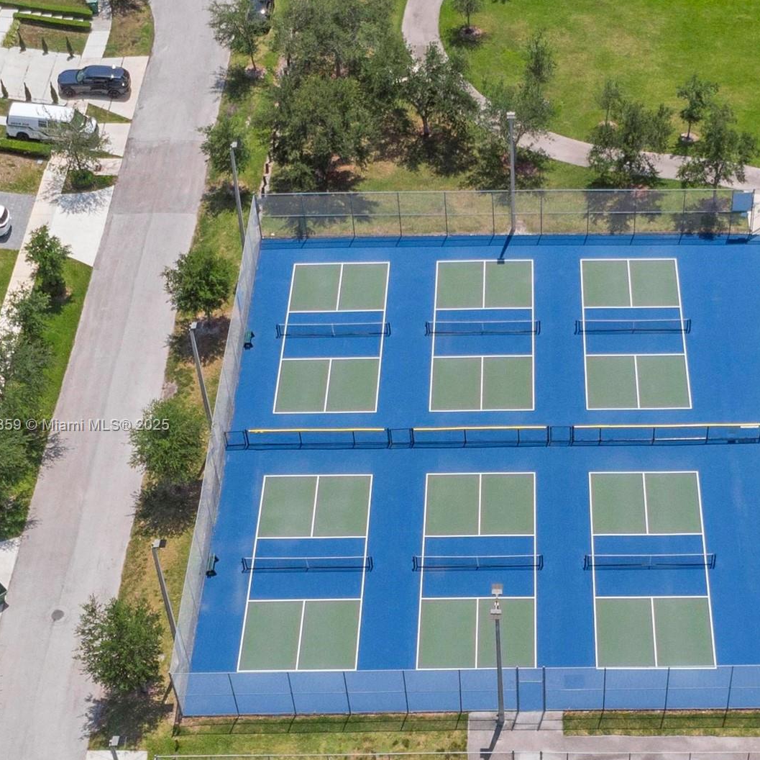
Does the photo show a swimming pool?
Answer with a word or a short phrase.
No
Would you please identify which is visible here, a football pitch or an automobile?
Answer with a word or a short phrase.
automobile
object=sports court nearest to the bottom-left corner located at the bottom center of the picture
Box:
[236,477,372,673]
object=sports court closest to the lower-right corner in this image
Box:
[590,474,716,671]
